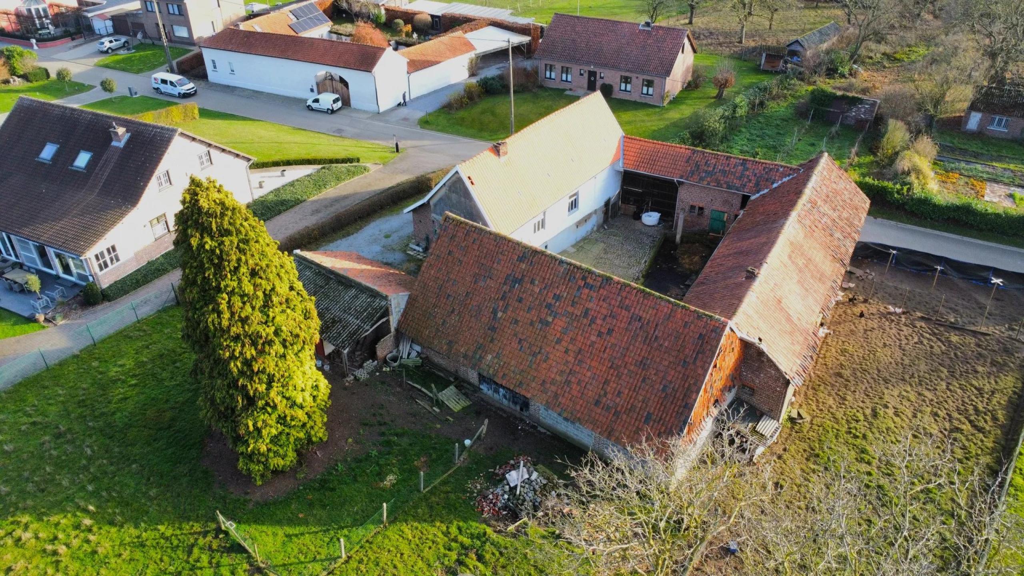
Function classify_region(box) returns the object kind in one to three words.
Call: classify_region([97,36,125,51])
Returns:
car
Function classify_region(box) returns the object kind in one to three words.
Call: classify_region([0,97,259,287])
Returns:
house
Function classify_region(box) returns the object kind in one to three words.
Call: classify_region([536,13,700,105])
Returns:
house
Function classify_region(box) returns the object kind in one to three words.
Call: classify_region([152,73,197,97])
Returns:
vehicle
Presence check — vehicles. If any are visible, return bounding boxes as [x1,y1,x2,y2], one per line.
[97,36,125,51]
[152,73,197,97]
[306,92,343,114]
